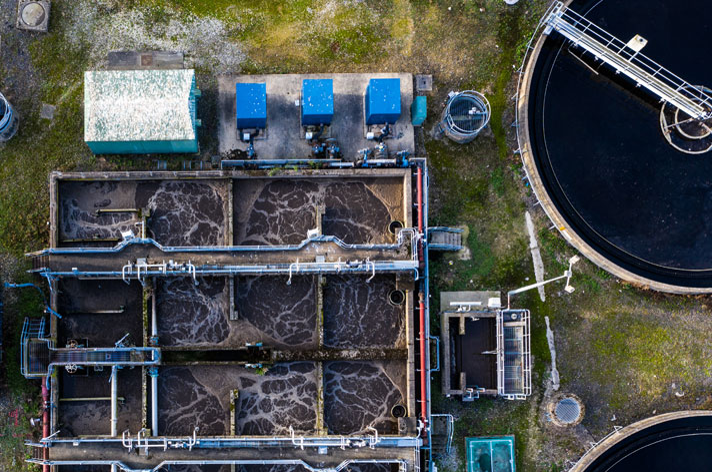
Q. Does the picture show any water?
Yes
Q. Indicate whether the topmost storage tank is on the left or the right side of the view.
right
